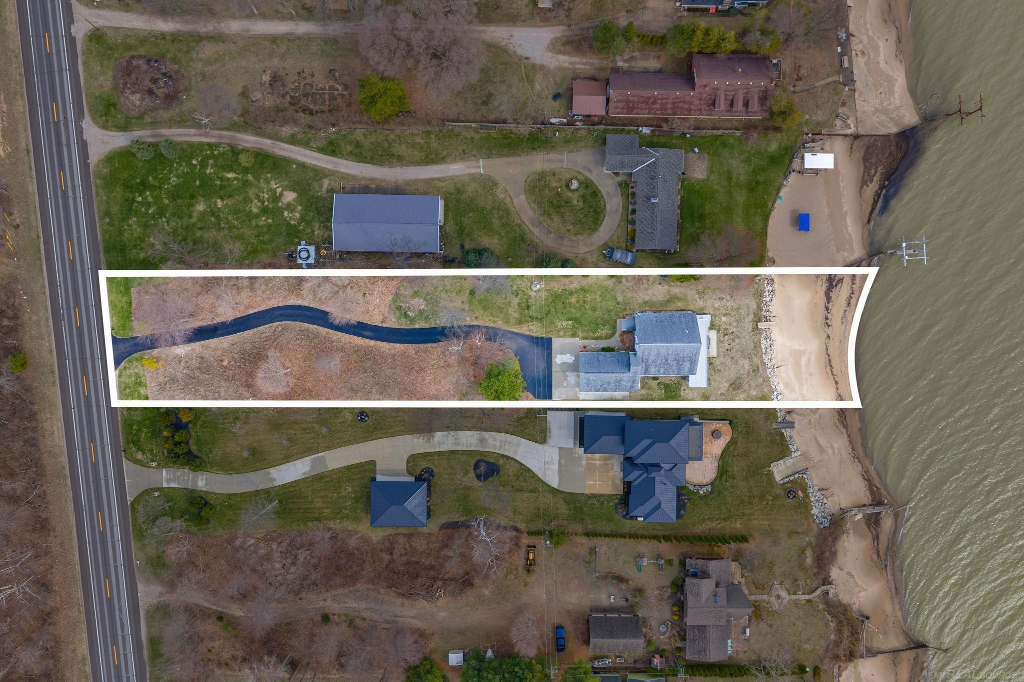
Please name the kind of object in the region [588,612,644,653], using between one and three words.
building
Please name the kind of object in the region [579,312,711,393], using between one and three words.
house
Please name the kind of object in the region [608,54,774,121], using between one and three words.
house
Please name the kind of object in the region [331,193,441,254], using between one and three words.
barn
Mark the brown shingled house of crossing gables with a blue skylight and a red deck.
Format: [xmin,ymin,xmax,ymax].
[675,552,754,662]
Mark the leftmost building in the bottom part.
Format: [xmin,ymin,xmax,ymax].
[370,480,427,527]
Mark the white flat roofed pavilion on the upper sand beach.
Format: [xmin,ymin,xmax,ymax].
[800,153,833,175]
